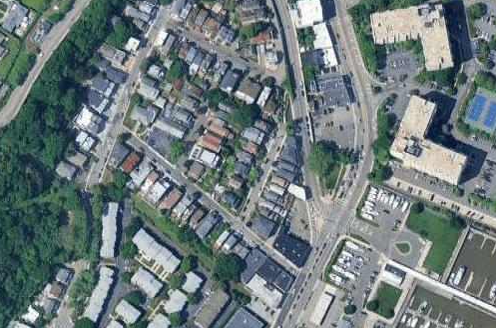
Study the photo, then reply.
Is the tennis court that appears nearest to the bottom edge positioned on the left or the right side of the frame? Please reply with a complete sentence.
The tennis court that appears nearest to the bottom edge appears in the right half of the scene.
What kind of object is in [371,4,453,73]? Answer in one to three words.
building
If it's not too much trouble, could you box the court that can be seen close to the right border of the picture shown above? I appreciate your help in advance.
[465,88,496,135]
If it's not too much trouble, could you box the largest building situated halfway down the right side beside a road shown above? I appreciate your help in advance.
[391,96,467,185]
